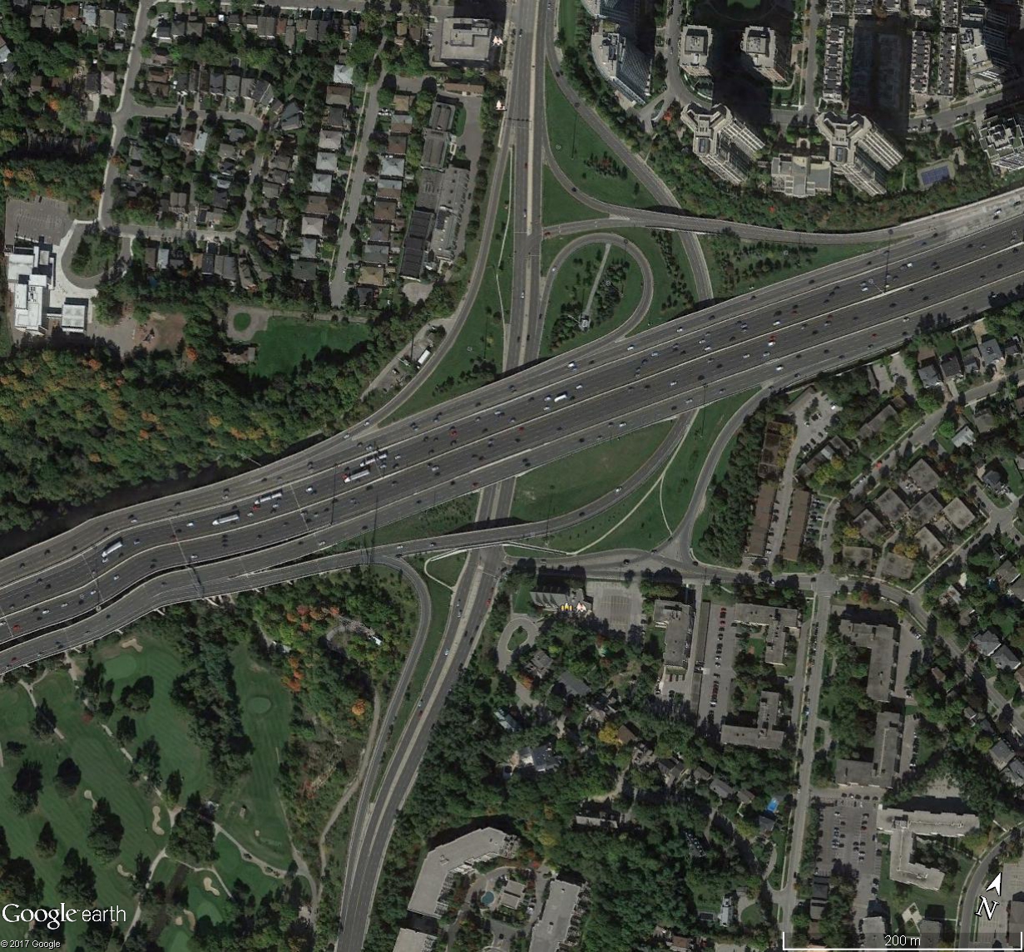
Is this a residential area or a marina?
residential area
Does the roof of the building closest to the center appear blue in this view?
No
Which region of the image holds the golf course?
bottom left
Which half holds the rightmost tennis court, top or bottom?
top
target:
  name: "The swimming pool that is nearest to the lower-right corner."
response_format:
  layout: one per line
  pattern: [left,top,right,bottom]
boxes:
[766,793,782,818]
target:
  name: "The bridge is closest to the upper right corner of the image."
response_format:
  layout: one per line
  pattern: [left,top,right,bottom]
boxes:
[617,206,741,231]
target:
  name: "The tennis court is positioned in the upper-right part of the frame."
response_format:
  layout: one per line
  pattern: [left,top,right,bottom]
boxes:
[919,161,956,190]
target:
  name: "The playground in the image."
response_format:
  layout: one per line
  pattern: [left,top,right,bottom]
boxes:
[135,313,185,351]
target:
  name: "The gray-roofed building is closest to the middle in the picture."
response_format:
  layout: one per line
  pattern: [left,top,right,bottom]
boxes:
[530,588,593,615]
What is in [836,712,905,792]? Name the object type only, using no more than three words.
building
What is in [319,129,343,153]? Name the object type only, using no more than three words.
house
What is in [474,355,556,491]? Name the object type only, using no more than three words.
overpass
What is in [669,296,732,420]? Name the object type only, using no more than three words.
overpass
